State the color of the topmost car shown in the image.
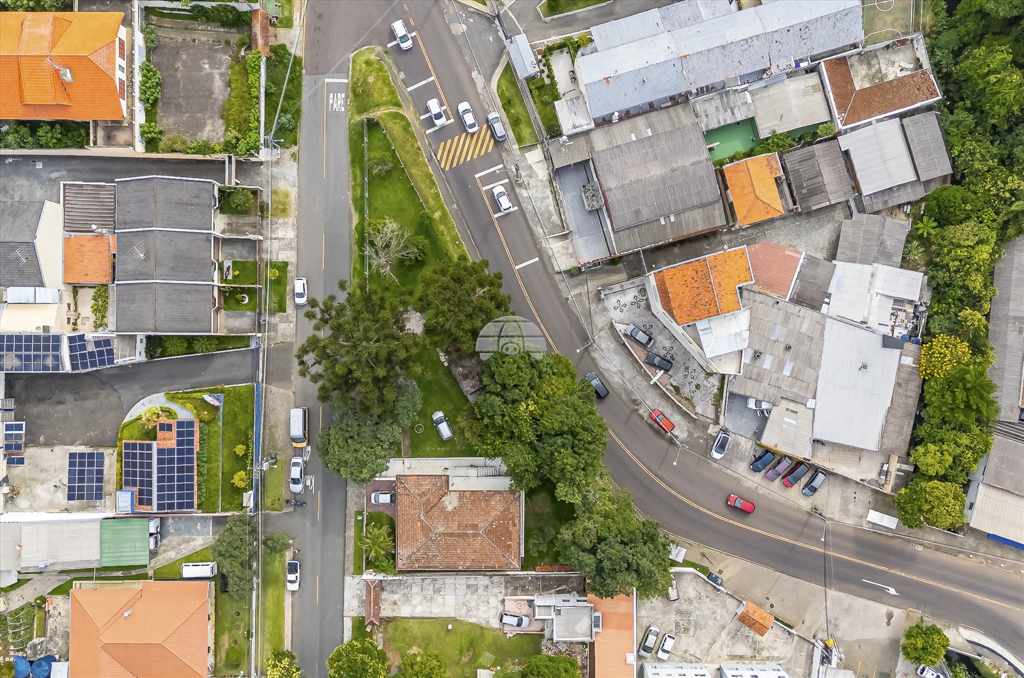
white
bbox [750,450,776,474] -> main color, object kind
blue car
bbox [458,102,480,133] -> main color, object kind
white car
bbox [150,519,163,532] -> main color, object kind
white vehicle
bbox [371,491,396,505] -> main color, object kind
white car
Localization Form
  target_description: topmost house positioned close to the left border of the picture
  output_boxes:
[0,11,133,126]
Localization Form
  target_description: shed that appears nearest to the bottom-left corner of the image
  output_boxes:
[27,634,46,660]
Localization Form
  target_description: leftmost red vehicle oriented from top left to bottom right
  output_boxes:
[650,409,676,434]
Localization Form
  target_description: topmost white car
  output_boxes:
[392,21,412,49]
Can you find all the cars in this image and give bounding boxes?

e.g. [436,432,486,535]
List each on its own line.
[290,459,305,490]
[492,184,514,215]
[766,456,792,481]
[487,111,507,141]
[392,21,412,49]
[585,372,611,399]
[728,494,756,514]
[426,99,446,127]
[746,399,770,414]
[711,430,730,458]
[656,633,676,661]
[640,626,660,657]
[293,277,308,307]
[650,409,676,434]
[371,491,396,505]
[802,469,829,496]
[458,102,480,133]
[645,352,675,374]
[150,519,163,532]
[432,410,453,441]
[625,324,655,349]
[500,611,530,629]
[782,463,811,489]
[150,535,161,547]
[667,573,681,601]
[750,450,776,474]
